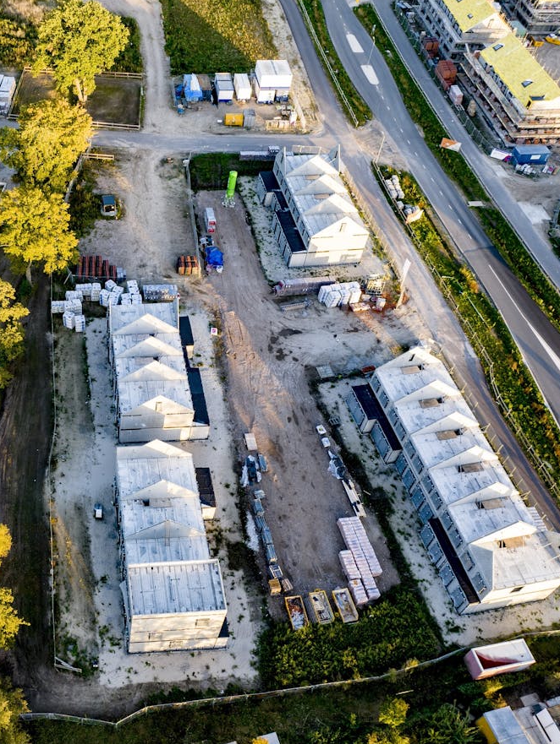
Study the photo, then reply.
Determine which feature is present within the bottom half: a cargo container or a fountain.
cargo container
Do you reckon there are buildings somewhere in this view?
Yes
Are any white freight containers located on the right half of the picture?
Yes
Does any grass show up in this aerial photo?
Yes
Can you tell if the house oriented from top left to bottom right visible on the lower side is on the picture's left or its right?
right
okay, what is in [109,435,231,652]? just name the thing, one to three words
house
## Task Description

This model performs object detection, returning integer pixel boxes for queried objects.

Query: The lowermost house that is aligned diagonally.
[342,346,560,614]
